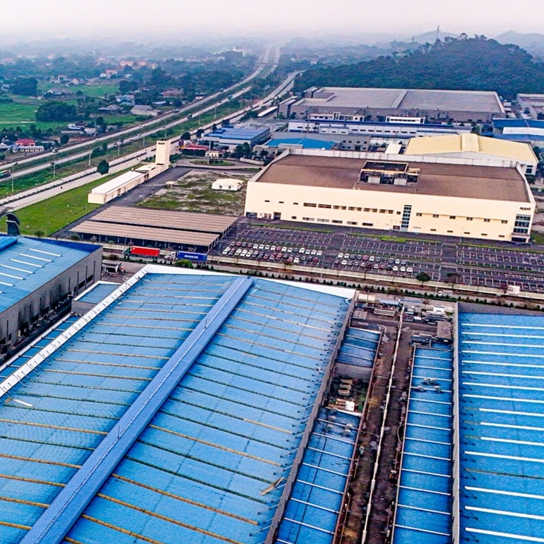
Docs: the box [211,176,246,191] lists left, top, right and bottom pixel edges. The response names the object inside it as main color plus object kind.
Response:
white tent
